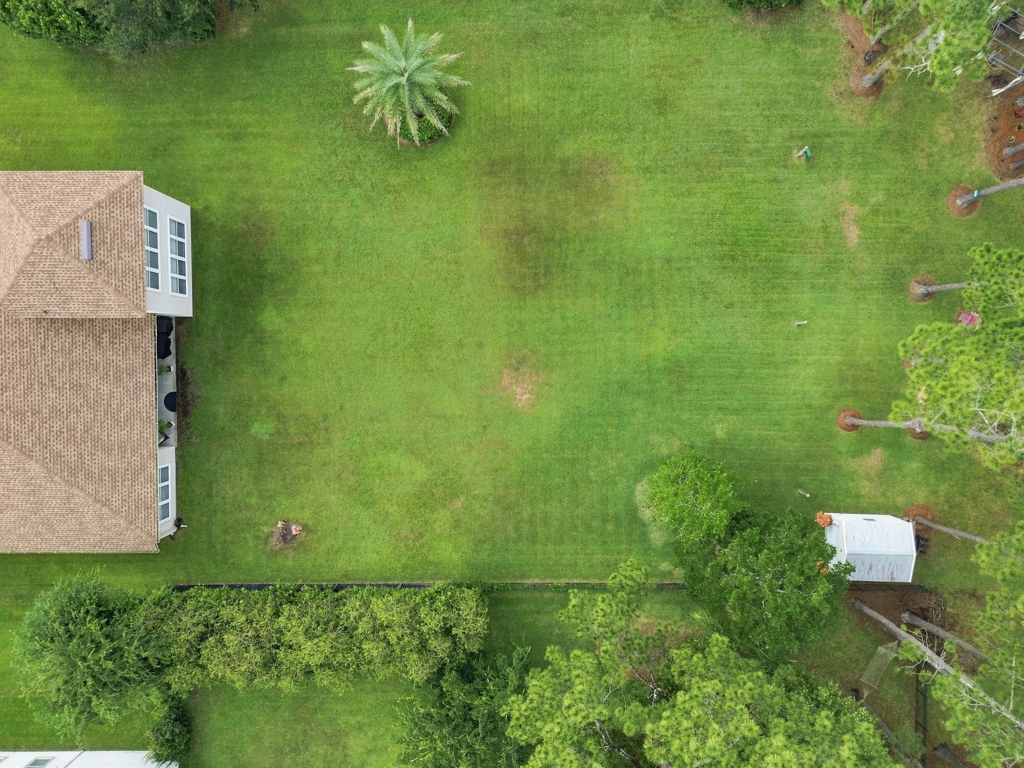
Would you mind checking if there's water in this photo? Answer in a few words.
No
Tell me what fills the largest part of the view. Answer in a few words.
grass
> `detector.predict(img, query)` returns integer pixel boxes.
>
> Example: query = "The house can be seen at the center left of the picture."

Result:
[0,170,193,553]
